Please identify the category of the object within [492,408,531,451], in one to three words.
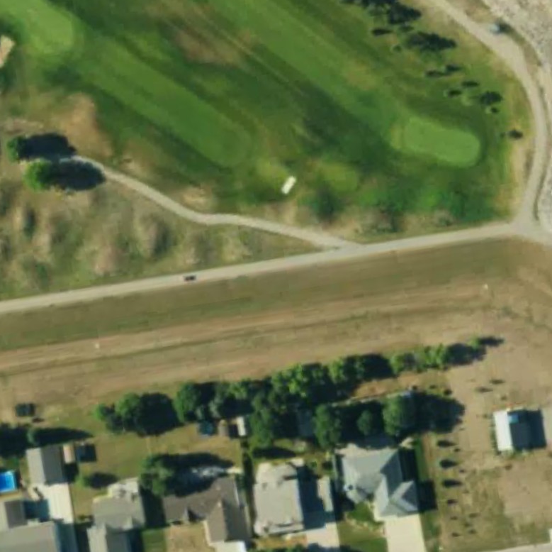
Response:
shed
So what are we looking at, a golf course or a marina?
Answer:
golf course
